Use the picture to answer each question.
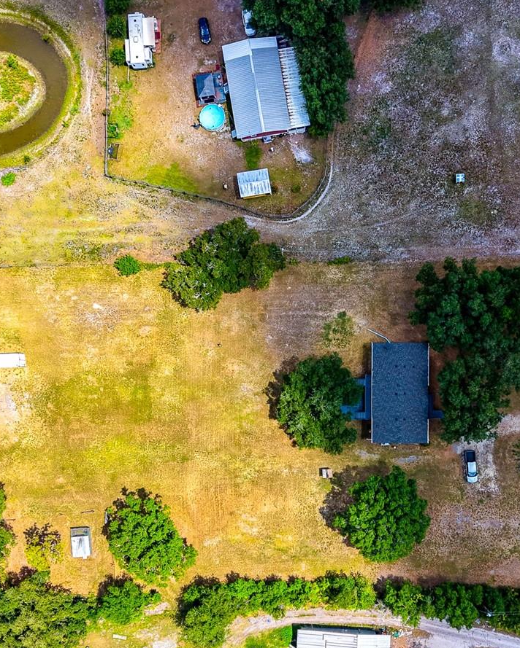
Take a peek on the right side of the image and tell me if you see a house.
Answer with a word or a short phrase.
Yes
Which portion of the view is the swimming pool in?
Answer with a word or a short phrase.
top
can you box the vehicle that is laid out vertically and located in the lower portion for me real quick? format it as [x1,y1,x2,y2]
[463,450,476,483]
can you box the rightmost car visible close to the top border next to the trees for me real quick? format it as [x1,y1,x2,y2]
[242,10,255,36]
